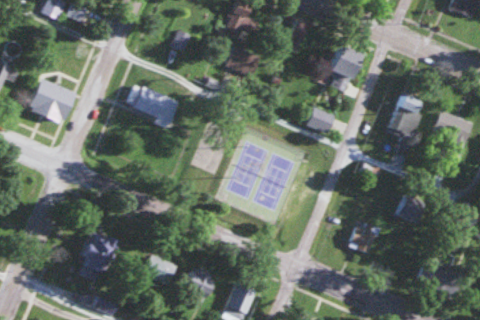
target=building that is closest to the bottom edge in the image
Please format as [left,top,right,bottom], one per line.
[218,284,256,320]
